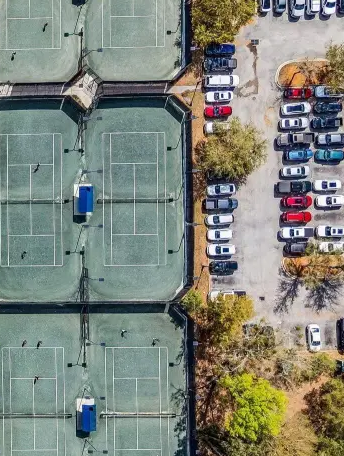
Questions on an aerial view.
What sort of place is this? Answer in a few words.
sports ground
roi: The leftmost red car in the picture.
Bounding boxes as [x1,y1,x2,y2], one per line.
[204,106,232,118]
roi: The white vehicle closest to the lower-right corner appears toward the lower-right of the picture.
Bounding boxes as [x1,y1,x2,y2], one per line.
[306,324,322,351]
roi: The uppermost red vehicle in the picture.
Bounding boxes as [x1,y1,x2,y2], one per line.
[285,87,312,100]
